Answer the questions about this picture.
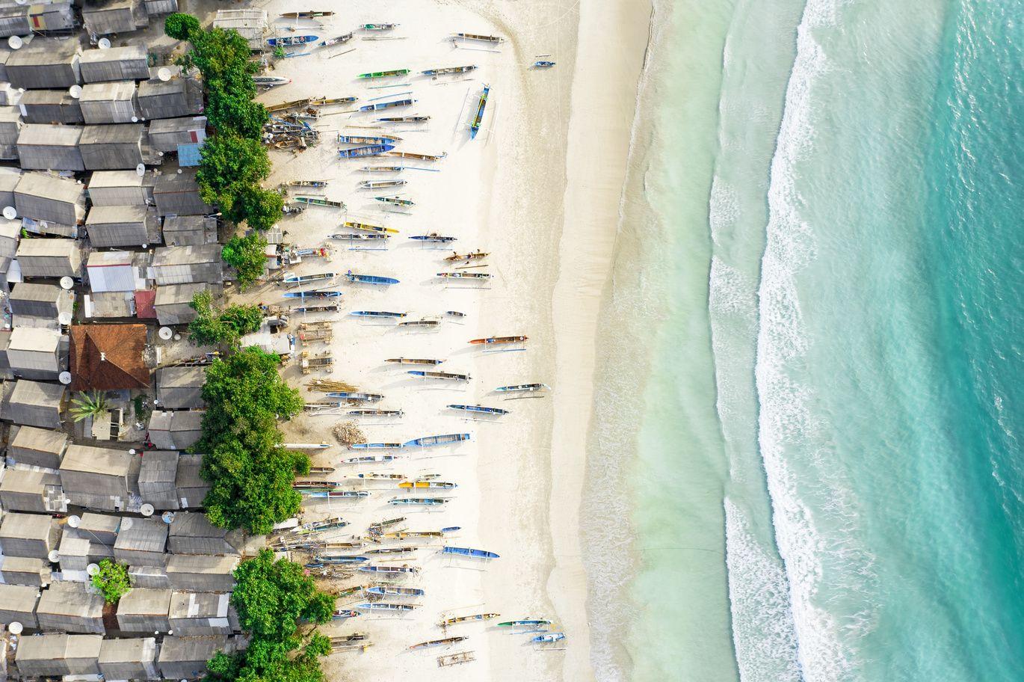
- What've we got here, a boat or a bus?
boat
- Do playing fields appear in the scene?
No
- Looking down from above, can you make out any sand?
Yes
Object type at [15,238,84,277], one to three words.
house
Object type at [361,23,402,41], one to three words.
boat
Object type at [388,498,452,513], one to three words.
boat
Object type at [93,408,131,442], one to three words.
building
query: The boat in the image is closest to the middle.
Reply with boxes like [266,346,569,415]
[470,336,534,352]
